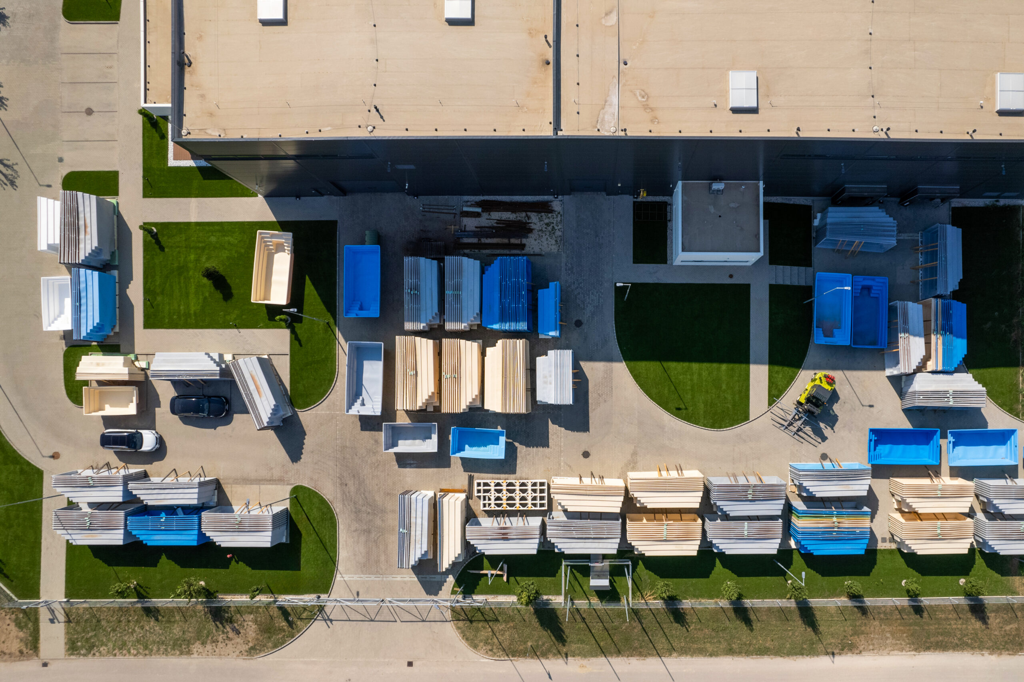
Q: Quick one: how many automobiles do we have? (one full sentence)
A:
Altogether the scene contains 2 automobiles.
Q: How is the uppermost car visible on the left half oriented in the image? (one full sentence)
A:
The uppermost car visible on the left half is laid out from left to right.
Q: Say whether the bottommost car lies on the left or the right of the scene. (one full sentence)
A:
The bottommost car is on the left side of the image.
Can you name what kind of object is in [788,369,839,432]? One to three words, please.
work vehicle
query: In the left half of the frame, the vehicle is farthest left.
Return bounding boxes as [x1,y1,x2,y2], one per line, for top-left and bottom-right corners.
[95,426,163,455]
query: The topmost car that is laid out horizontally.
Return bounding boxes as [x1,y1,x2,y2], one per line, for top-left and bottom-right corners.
[169,392,232,421]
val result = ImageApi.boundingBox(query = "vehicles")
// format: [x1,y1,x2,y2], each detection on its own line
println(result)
[169,392,232,421]
[95,426,163,455]
[788,369,839,432]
